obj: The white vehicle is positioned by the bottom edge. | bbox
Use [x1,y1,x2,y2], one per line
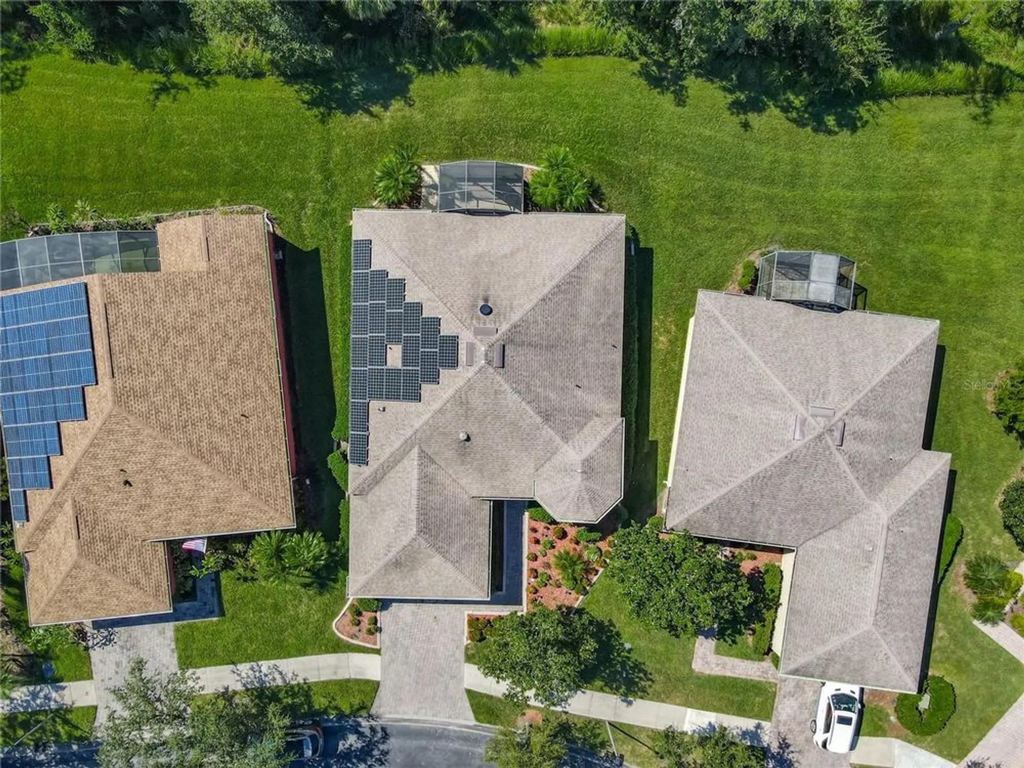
[810,682,859,752]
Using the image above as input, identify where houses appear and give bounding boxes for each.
[0,211,304,627]
[346,207,633,601]
[662,287,953,696]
